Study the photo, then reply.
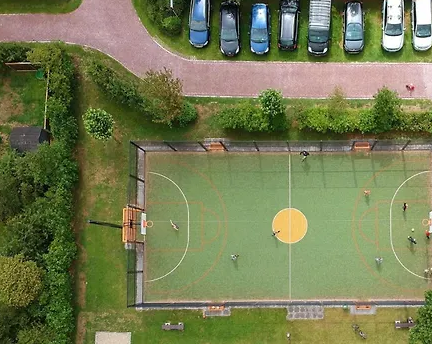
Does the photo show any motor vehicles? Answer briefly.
Yes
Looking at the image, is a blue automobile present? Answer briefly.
Yes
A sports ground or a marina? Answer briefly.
sports ground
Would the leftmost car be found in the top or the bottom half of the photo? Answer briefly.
top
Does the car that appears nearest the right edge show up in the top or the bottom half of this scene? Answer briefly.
top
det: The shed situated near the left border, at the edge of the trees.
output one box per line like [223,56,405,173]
[0,122,47,150]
